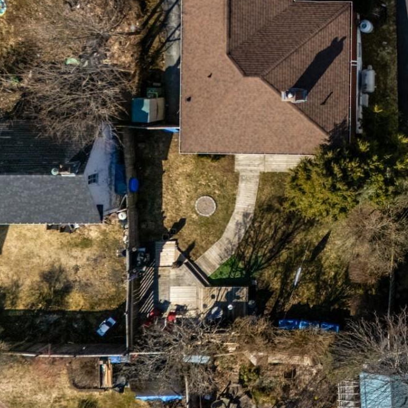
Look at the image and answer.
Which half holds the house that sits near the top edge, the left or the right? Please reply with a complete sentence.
You can find the house that sits near the top edge on the right side of the picture.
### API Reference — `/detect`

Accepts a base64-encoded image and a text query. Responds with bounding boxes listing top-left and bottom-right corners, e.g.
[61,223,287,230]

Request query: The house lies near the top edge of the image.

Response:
[179,0,362,155]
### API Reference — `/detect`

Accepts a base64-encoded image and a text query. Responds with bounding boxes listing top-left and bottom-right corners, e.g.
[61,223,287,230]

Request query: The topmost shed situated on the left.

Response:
[132,98,175,122]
